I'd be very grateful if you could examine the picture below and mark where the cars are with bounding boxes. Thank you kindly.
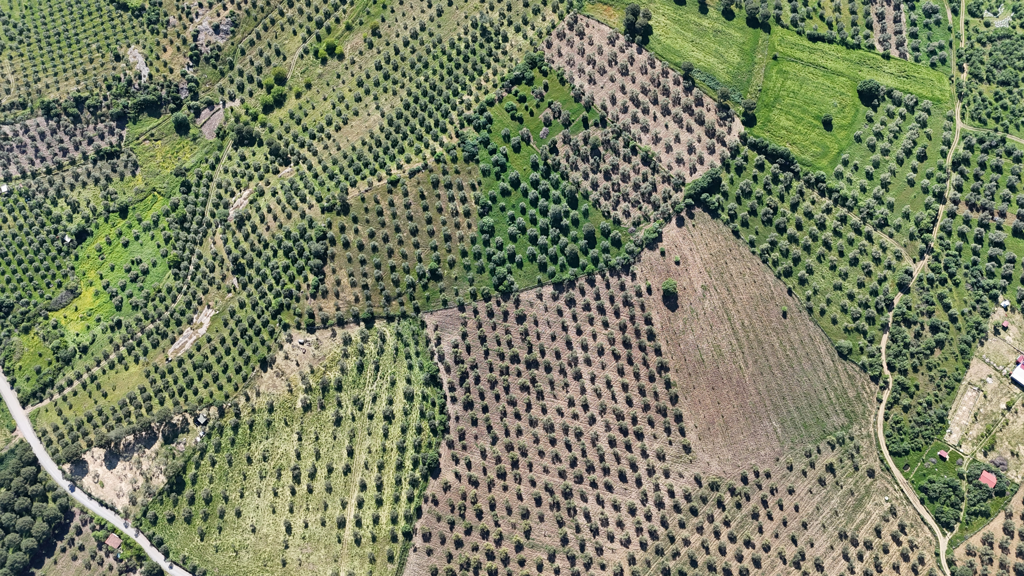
[164,357,173,364]
[198,429,206,437]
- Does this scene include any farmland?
Yes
